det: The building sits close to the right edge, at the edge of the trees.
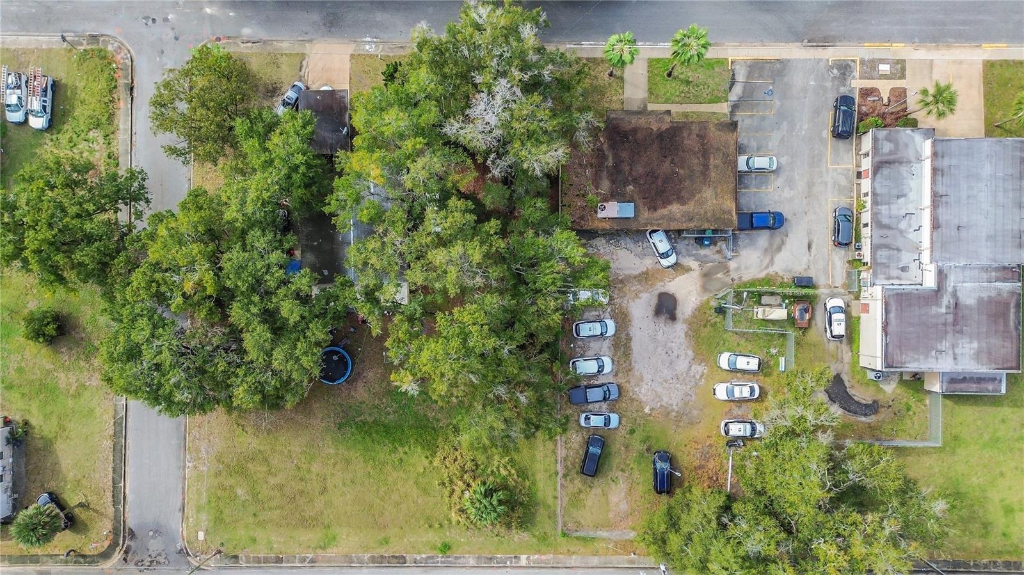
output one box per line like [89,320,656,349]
[858,127,1024,395]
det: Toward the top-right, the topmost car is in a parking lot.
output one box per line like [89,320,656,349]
[831,96,856,141]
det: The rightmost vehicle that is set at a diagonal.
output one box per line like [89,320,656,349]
[645,229,678,271]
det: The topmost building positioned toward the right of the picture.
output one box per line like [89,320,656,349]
[566,110,738,229]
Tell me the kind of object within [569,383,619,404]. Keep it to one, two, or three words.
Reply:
truck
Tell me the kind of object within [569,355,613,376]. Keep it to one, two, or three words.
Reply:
car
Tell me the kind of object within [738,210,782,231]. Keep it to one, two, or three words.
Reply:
truck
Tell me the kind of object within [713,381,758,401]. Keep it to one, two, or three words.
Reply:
car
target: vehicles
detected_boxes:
[720,418,763,440]
[831,206,853,248]
[569,383,619,404]
[577,286,608,307]
[2,70,33,124]
[738,210,782,231]
[319,85,335,90]
[572,318,615,339]
[713,381,758,401]
[275,77,309,119]
[569,355,613,376]
[652,450,672,494]
[738,154,776,174]
[40,488,74,529]
[716,352,761,372]
[831,96,856,141]
[822,296,846,340]
[725,439,744,448]
[580,433,604,477]
[27,75,56,130]
[645,229,678,271]
[579,411,619,431]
